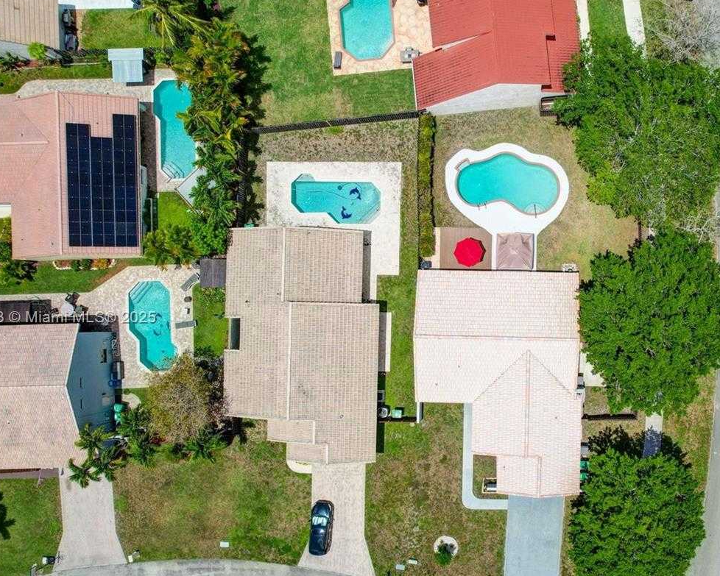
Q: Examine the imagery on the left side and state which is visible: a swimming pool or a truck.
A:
swimming pool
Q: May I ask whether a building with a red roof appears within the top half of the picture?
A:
Yes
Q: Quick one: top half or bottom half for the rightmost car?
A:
bottom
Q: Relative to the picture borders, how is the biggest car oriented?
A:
vertically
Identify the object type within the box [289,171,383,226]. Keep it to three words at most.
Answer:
swimming pool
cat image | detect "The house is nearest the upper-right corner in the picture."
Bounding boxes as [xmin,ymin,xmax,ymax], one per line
[413,0,580,114]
